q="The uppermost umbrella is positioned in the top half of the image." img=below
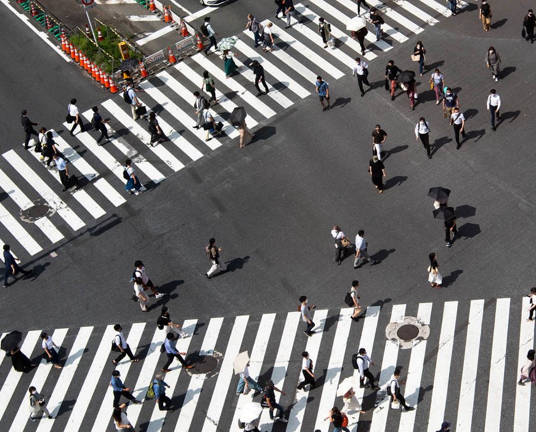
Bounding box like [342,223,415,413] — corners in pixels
[347,21,368,38]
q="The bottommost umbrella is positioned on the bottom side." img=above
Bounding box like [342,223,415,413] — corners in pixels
[239,400,268,429]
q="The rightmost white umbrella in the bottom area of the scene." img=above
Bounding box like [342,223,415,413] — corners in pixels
[335,377,363,401]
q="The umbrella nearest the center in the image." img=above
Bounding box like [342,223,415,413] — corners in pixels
[233,107,253,127]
